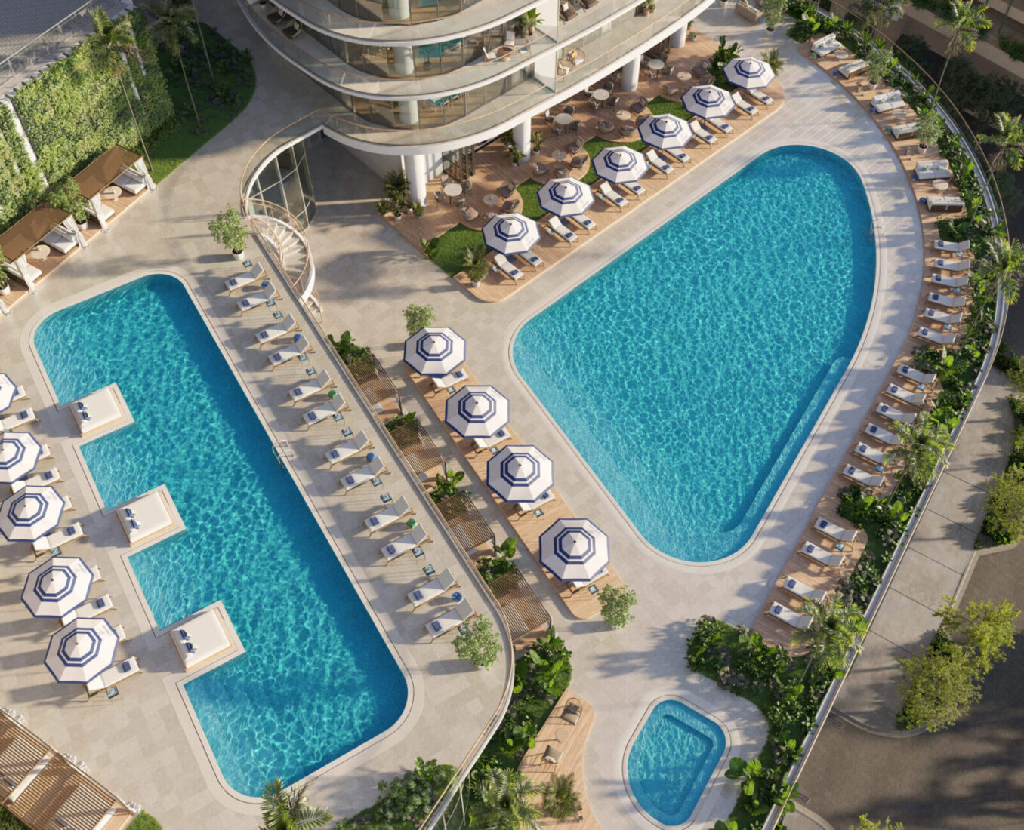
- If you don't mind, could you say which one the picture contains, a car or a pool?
pool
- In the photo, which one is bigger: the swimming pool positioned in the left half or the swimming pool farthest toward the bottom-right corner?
the swimming pool positioned in the left half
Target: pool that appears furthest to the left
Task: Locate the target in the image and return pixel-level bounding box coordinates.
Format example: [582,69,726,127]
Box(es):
[35,275,408,797]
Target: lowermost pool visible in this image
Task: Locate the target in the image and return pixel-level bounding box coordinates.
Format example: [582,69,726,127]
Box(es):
[628,701,726,826]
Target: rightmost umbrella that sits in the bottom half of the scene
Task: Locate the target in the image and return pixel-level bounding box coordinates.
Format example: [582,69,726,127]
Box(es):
[540,518,609,580]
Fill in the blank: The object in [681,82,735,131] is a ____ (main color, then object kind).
white umbrella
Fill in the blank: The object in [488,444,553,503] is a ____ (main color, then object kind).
white umbrella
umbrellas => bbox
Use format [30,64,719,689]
[636,111,691,162]
[681,82,735,131]
[0,430,46,492]
[19,555,97,625]
[488,444,553,503]
[0,482,69,545]
[592,144,647,194]
[540,518,609,580]
[482,211,539,267]
[405,325,466,382]
[723,54,776,98]
[536,175,594,229]
[41,617,121,689]
[444,384,507,441]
